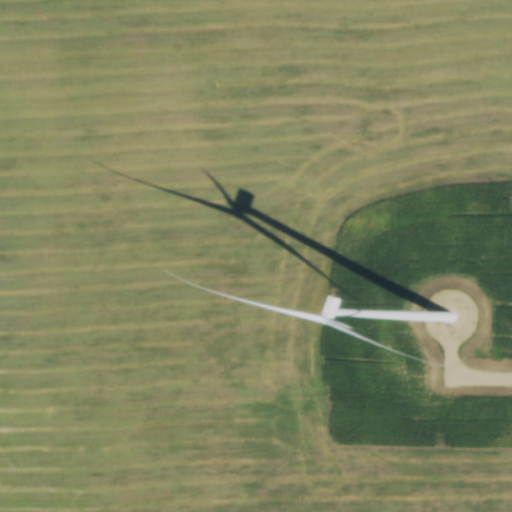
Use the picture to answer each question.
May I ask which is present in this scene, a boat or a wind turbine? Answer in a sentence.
Visible in the photo is a wind turbine.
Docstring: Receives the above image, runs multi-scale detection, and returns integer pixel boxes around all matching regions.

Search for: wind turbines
[165,270,458,368]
